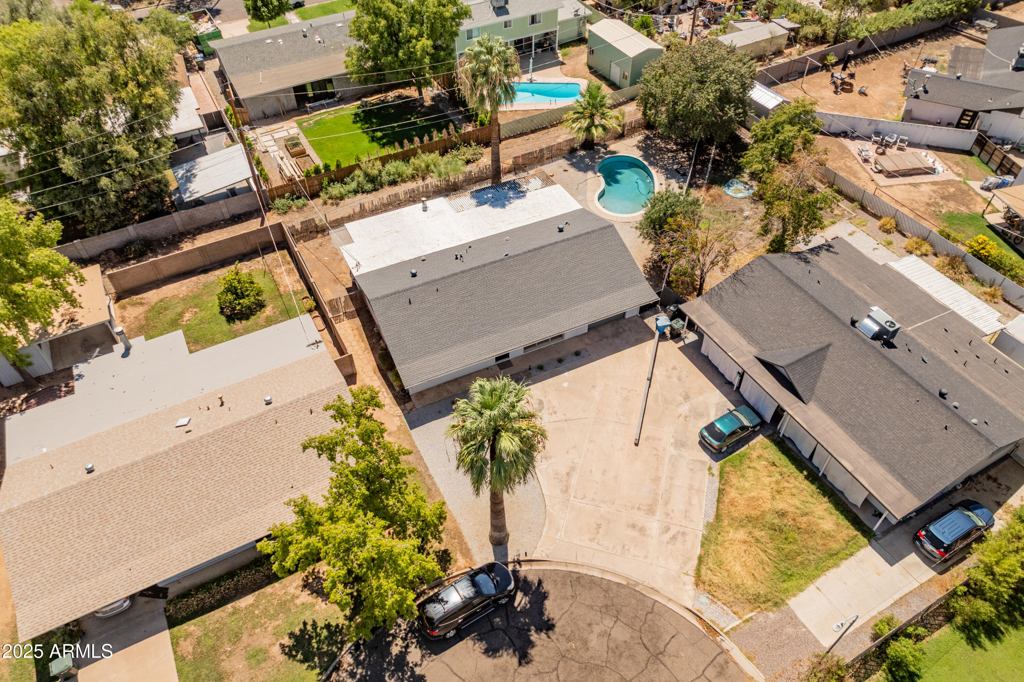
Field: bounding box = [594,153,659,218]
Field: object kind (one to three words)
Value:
swimming pool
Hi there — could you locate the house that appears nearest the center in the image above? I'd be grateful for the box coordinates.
[340,184,659,394]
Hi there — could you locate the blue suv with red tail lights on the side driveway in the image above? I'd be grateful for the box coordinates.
[912,494,1003,567]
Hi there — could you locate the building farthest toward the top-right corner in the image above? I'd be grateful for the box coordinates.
[899,24,1024,147]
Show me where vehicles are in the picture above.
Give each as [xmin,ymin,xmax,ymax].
[912,494,1003,567]
[694,401,770,457]
[87,597,132,624]
[411,558,522,649]
[289,0,306,6]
